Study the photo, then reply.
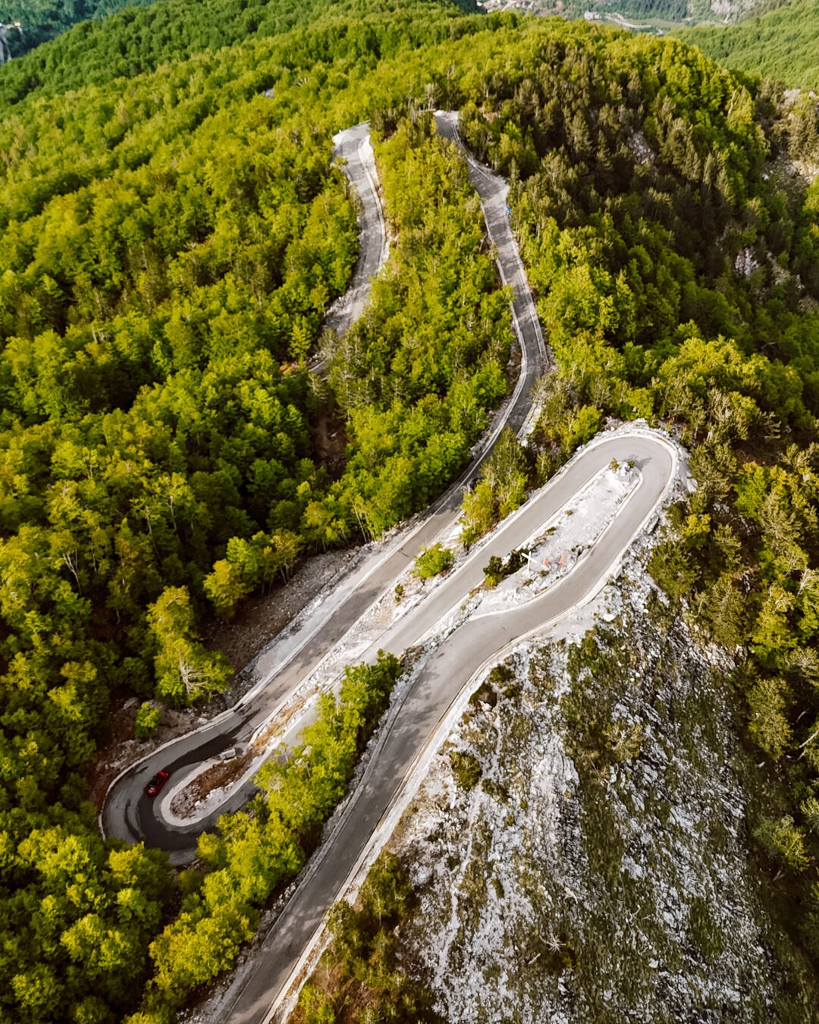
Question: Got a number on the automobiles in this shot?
1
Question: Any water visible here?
No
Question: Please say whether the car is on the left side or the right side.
left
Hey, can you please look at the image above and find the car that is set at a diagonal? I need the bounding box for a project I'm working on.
[144,771,171,795]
